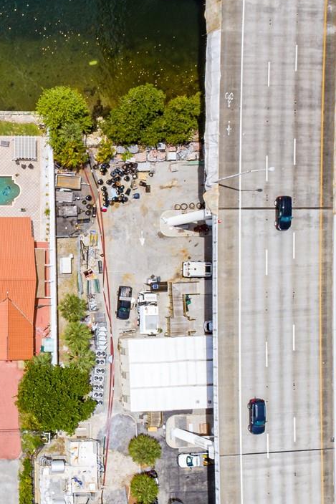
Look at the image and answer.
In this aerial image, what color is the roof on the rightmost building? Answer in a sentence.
The color of the roof on the rightmost building is white.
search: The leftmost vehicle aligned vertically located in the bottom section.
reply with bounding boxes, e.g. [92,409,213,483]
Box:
[114,284,132,321]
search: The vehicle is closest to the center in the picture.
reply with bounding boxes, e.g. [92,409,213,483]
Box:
[178,262,213,278]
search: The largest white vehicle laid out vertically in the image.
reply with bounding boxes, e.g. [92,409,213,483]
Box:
[137,286,160,337]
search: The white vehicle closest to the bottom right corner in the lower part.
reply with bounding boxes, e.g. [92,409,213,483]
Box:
[172,454,212,470]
